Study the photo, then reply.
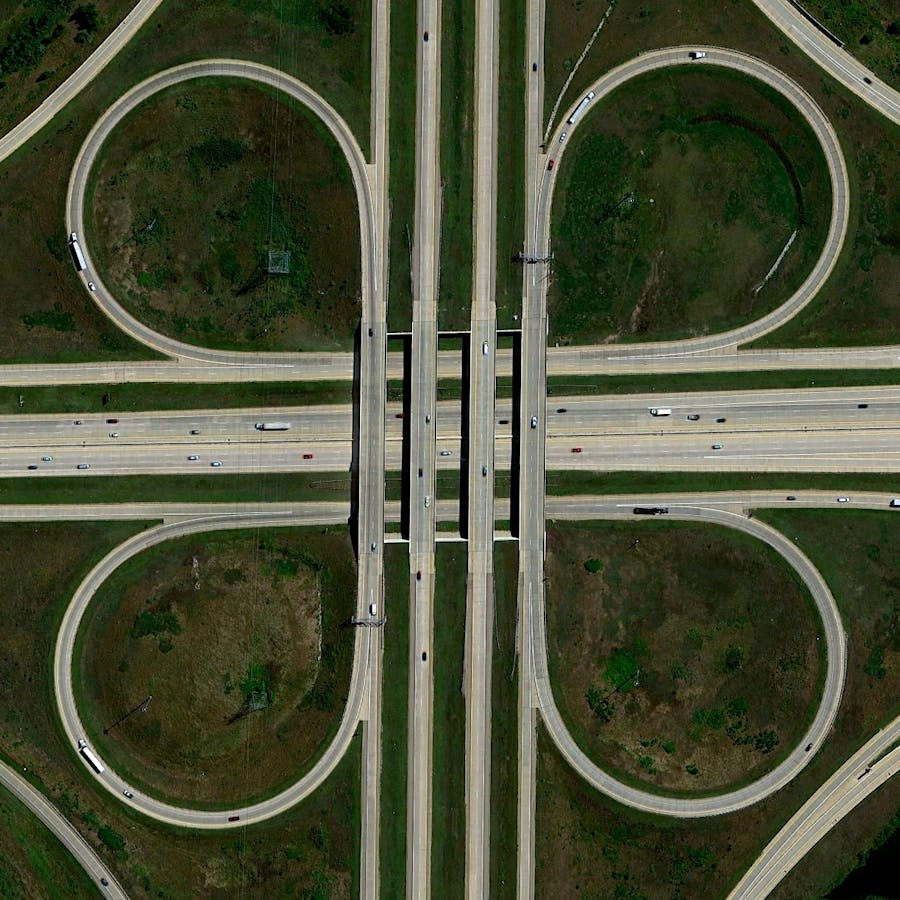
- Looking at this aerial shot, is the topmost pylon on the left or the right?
left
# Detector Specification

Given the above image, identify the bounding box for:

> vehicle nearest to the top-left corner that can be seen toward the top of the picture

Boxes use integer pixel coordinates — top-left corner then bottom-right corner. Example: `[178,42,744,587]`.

[71,233,86,272]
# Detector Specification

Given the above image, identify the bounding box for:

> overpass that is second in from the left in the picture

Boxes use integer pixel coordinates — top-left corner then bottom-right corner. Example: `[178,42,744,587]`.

[409,322,438,553]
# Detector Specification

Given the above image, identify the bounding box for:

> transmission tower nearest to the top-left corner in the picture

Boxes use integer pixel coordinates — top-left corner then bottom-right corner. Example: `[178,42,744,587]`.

[257,250,294,272]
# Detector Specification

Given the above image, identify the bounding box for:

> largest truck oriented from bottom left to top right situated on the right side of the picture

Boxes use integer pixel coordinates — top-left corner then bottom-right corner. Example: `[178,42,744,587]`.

[567,91,594,124]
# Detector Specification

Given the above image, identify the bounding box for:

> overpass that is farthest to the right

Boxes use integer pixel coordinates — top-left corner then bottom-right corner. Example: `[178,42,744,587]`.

[519,318,547,551]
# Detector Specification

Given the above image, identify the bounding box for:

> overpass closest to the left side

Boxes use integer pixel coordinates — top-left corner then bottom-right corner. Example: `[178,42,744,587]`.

[358,323,387,554]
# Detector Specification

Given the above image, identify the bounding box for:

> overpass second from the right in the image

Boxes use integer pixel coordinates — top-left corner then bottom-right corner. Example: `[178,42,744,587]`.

[468,320,497,552]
